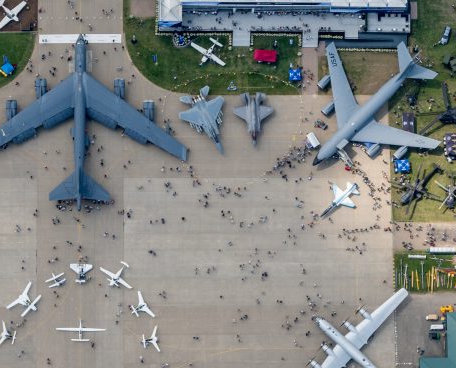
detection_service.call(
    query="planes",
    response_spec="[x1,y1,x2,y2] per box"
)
[70,260,92,284]
[301,288,409,368]
[322,176,364,217]
[0,34,186,208]
[179,85,225,155]
[130,289,155,318]
[190,37,224,66]
[141,324,163,352]
[0,0,28,28]
[0,319,18,344]
[55,319,106,344]
[233,91,274,146]
[312,41,443,166]
[6,281,41,317]
[98,259,133,288]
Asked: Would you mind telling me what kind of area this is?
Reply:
airport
